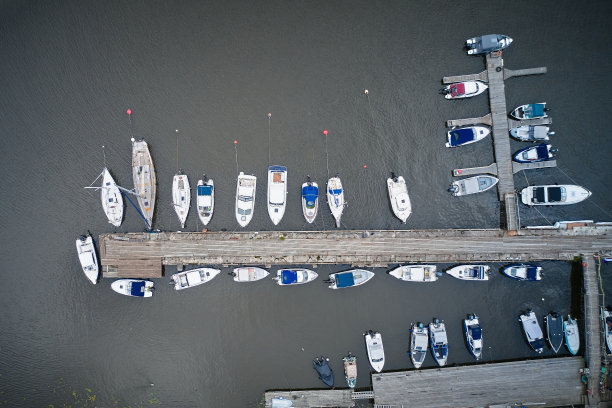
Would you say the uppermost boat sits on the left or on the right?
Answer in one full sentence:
You can find the uppermost boat on the right side of the picture.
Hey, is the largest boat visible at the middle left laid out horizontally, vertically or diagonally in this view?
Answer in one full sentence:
Seen from above, the largest boat visible at the middle left lies vertically.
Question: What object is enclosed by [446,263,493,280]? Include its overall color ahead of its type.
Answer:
white boat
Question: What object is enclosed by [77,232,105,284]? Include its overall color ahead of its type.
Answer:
white boat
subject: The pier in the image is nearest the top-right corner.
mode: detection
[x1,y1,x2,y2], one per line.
[504,67,549,81]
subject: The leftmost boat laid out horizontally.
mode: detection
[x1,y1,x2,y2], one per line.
[110,277,157,297]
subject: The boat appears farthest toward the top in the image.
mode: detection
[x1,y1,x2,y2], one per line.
[463,35,514,55]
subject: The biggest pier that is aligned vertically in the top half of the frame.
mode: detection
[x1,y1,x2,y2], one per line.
[486,54,515,203]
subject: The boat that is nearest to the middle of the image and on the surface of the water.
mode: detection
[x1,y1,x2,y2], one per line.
[302,179,319,232]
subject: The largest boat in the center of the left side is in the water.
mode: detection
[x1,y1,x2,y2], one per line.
[114,113,157,235]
